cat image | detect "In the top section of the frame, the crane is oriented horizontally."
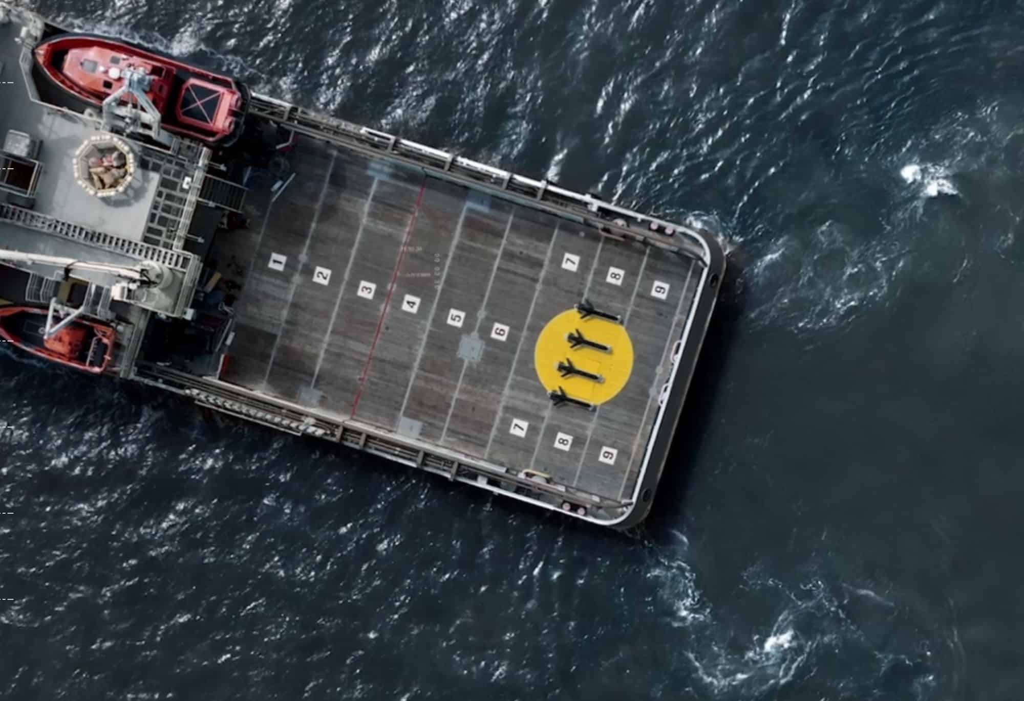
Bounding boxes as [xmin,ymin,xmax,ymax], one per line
[0,248,187,301]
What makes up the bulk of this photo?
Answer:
water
